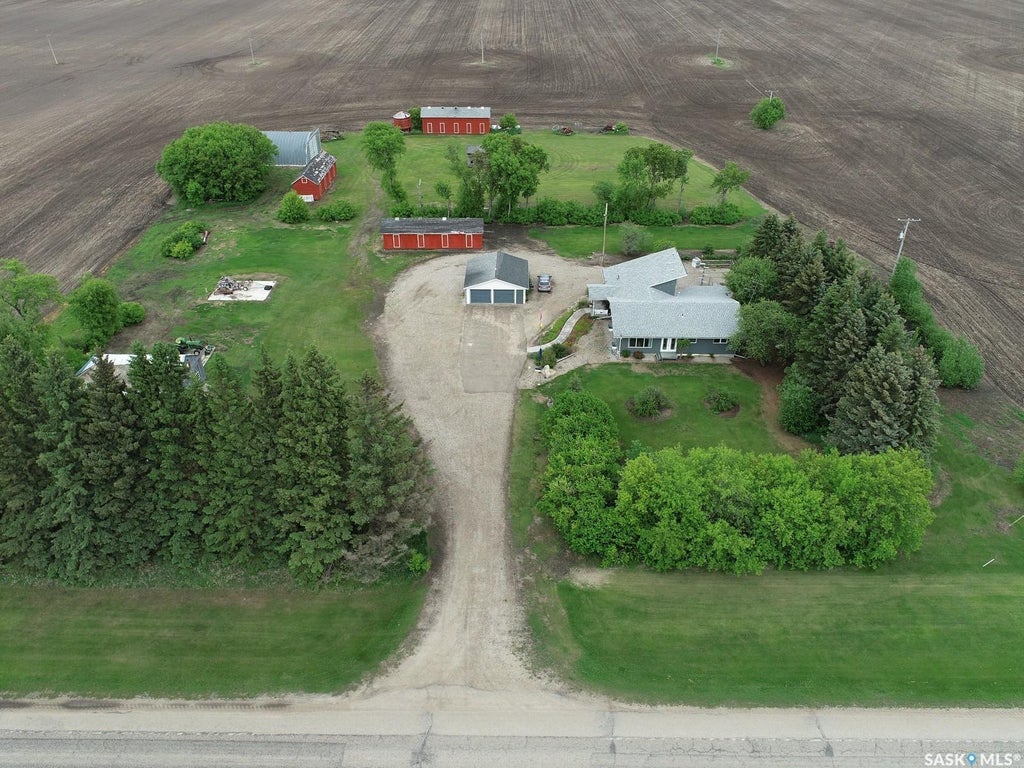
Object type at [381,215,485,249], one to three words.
shed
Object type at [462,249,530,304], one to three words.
building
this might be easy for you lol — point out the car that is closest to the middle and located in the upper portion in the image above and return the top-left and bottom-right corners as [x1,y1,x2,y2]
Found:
[536,273,551,288]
